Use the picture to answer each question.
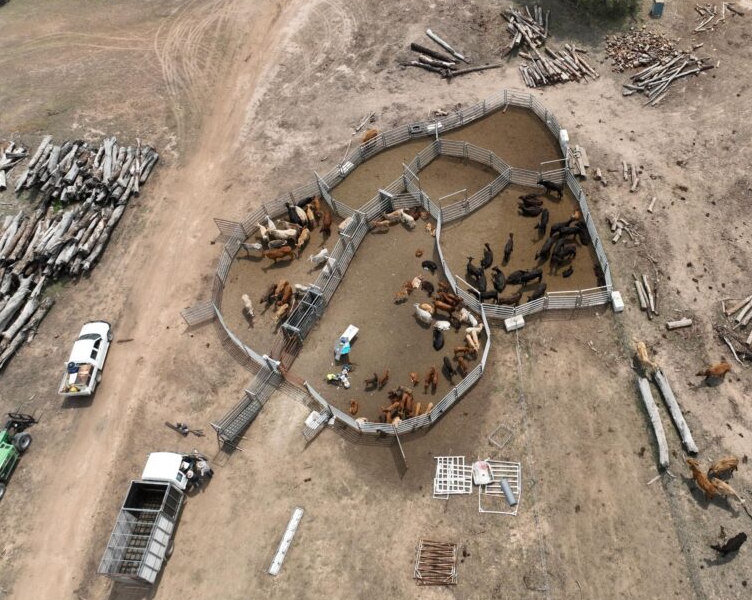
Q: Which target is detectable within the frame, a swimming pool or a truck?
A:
truck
